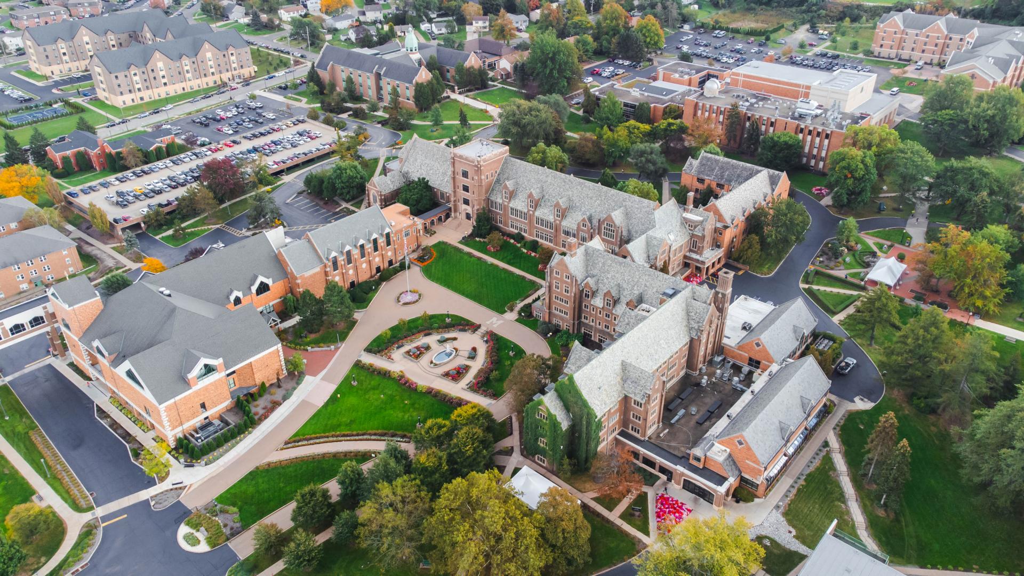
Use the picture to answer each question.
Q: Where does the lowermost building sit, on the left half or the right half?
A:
right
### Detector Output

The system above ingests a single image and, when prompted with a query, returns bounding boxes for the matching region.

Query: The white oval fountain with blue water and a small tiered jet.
[432,346,455,363]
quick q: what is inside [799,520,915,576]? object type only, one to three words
building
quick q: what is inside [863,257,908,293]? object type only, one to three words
tent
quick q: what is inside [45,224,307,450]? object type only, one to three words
building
